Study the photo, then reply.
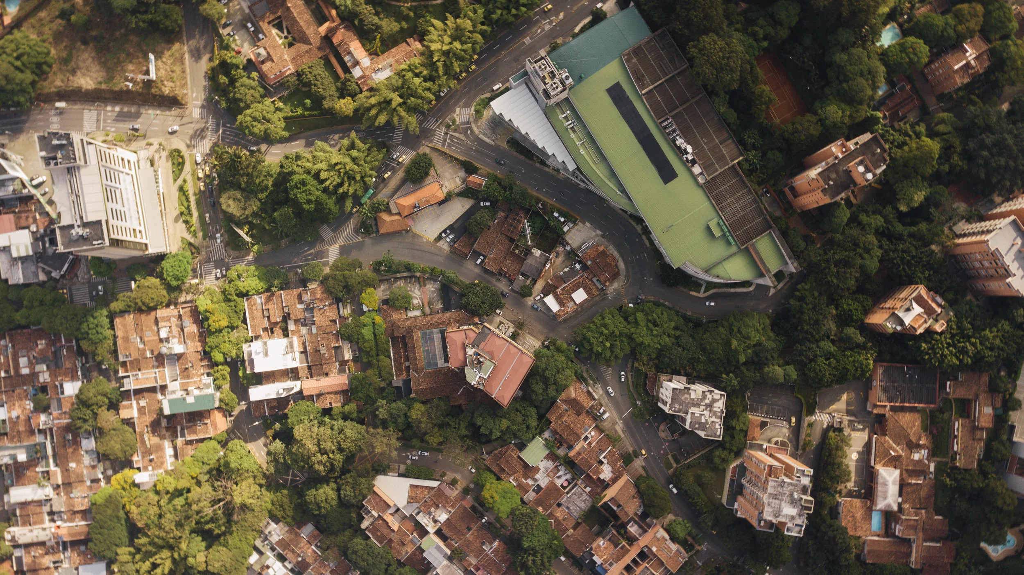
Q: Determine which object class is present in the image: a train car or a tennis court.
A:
tennis court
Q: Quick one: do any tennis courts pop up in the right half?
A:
Yes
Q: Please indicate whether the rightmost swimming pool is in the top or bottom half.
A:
bottom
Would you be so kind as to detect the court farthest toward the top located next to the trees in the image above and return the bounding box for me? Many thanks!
[757,55,803,119]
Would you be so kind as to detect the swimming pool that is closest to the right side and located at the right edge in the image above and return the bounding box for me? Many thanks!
[981,525,1024,560]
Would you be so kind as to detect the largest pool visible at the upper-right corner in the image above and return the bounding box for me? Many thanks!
[875,22,903,48]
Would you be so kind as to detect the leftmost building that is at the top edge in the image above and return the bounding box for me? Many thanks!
[248,0,331,88]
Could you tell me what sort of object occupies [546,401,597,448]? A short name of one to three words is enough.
house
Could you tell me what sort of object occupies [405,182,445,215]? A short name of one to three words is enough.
building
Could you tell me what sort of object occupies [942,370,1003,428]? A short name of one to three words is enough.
house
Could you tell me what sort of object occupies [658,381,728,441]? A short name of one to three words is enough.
building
